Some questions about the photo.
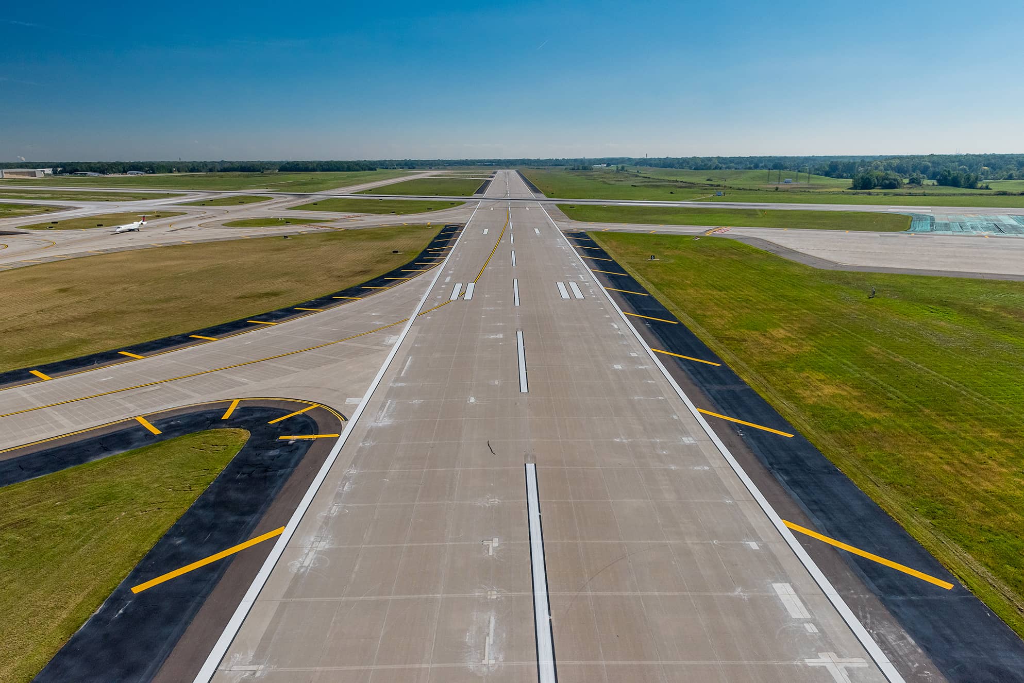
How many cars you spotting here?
0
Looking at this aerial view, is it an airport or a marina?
airport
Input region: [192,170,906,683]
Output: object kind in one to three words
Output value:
runway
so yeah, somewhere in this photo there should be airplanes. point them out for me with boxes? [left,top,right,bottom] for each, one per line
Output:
[114,214,154,233]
